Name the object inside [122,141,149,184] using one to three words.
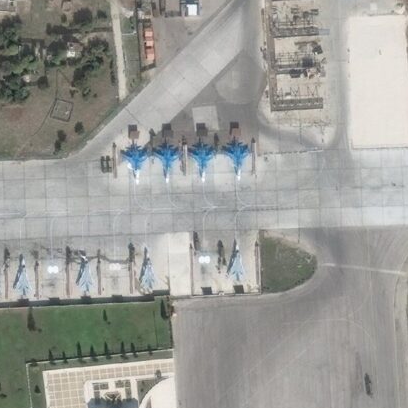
airplane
